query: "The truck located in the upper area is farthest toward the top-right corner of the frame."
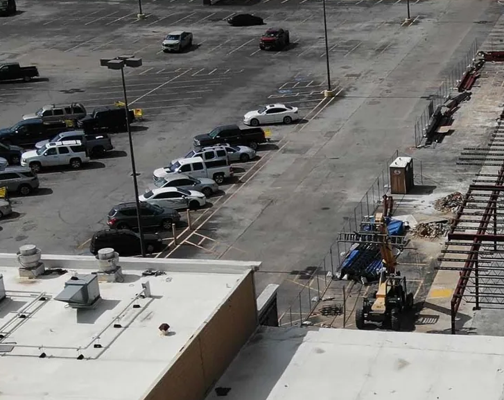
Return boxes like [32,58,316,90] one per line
[253,27,289,49]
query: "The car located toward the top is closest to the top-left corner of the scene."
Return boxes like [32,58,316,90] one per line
[0,0,21,16]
